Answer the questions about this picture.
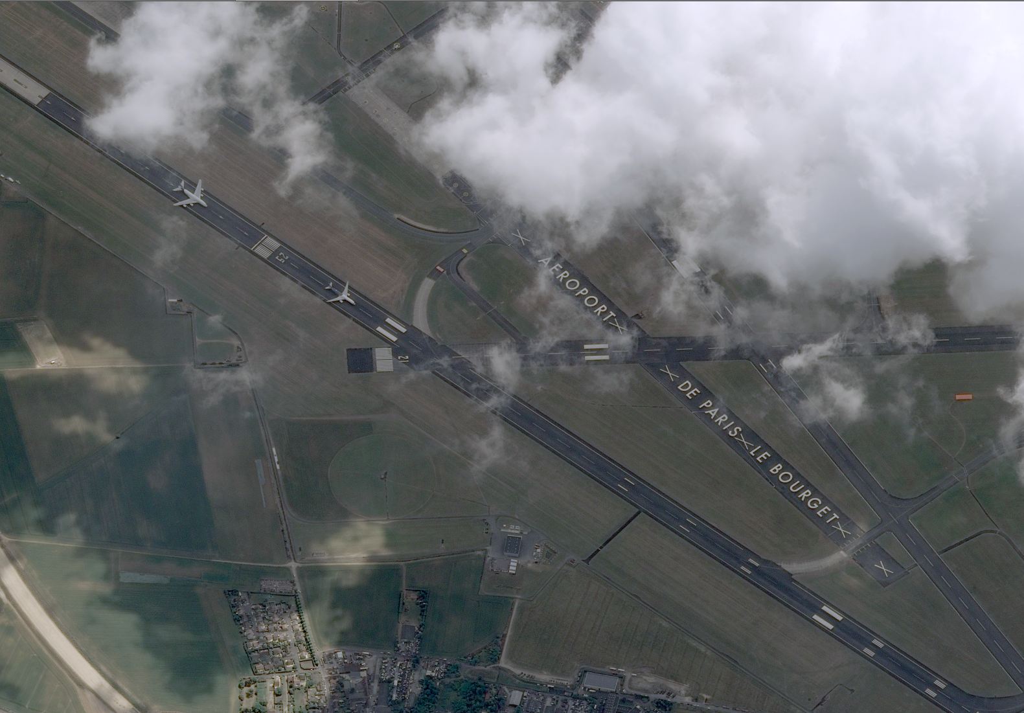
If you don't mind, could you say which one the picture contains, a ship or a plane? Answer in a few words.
plane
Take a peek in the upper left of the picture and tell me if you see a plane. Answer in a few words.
Yes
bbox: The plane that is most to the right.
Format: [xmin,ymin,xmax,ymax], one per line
[326,280,356,304]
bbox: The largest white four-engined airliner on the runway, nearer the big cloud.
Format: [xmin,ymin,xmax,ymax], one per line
[172,177,208,206]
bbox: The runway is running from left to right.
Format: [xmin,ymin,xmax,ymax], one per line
[347,324,1024,374]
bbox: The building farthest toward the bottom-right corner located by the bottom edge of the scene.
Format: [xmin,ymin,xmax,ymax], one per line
[585,672,619,693]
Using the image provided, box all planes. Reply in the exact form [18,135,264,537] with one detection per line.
[172,177,208,206]
[326,280,356,304]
